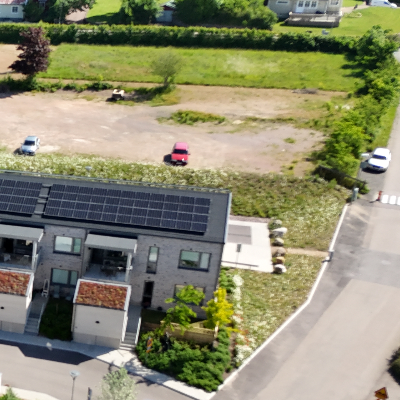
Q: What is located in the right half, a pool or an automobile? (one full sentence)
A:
The one visible in the right half is an automobile.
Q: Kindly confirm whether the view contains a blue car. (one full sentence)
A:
No, I find no blue car anywhere in the image.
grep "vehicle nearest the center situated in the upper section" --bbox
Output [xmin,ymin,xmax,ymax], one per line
[168,137,193,161]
